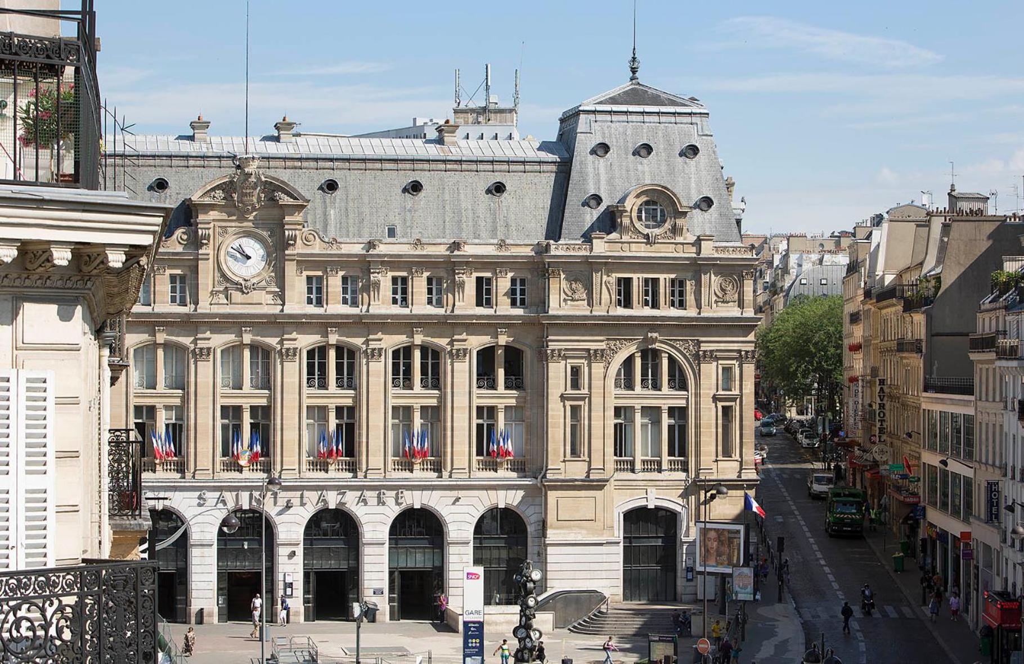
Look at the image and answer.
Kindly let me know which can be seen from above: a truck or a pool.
truck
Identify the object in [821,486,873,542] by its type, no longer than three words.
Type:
truck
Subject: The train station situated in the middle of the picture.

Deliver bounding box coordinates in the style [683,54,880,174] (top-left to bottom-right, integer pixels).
[97,0,762,626]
